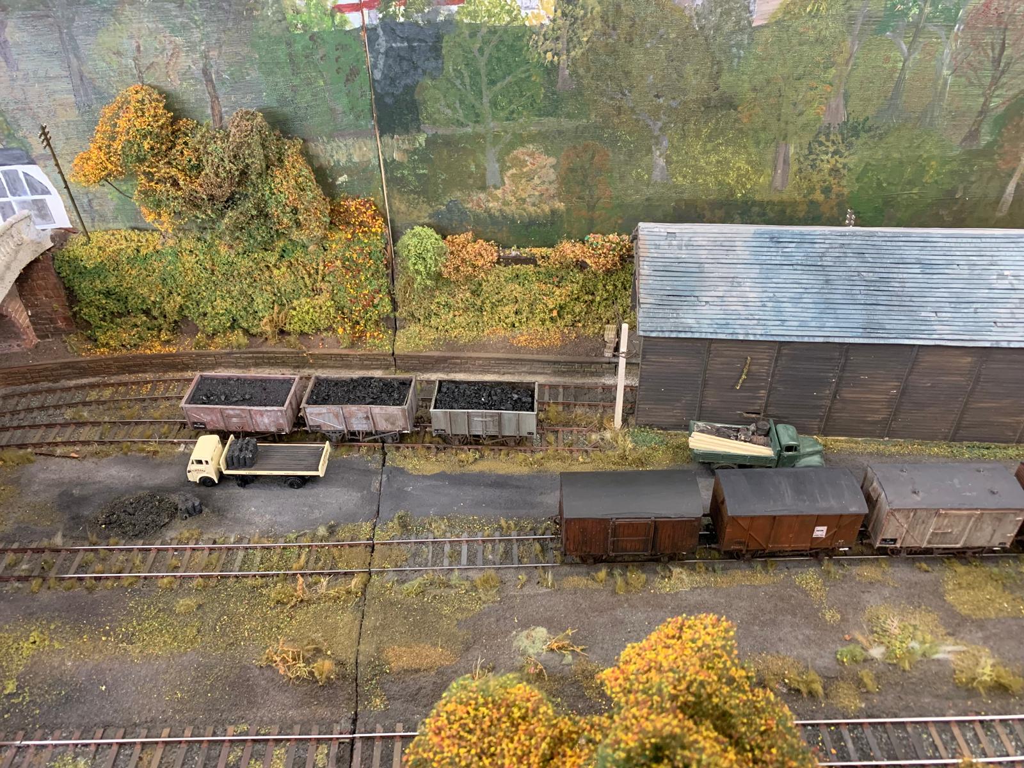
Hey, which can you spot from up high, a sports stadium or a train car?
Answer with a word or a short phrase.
train car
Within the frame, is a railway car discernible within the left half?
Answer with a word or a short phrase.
Yes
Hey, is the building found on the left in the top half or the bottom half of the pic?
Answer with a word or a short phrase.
top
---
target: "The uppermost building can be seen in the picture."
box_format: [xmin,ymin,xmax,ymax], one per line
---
[0,147,81,235]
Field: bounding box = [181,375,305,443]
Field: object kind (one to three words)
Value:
rail car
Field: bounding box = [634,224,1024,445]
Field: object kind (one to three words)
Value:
shed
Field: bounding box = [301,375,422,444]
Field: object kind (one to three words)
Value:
rail car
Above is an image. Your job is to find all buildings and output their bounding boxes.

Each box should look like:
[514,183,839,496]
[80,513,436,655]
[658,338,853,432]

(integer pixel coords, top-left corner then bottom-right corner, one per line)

[634,224,1024,445]
[0,147,81,235]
